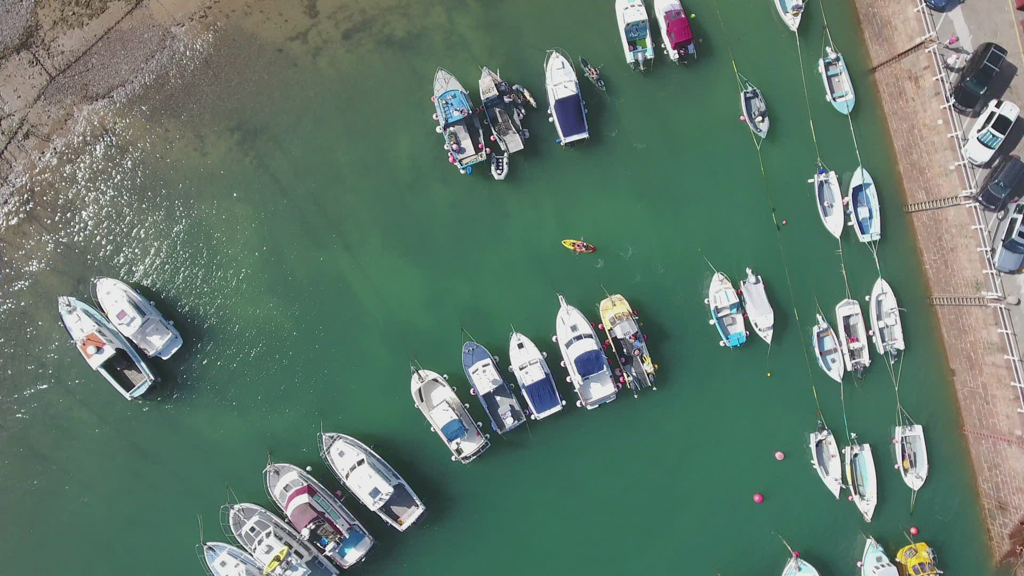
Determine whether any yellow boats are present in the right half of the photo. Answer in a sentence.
Yes, a yellow boat can be seen in the right half of the photo.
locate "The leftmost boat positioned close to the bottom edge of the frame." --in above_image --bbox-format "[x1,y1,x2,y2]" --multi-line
[196,540,269,576]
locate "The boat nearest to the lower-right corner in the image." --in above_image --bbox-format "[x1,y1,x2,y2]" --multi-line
[895,540,944,576]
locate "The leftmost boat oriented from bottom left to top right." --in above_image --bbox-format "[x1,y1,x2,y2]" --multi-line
[263,546,288,575]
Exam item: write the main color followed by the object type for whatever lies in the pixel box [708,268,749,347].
white boat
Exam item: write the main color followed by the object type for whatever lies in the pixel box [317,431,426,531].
white boat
